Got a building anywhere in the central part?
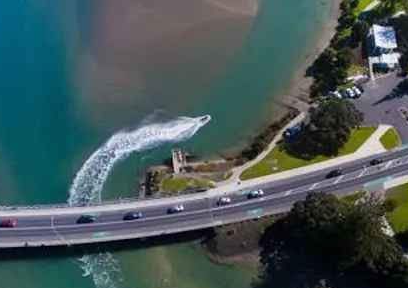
No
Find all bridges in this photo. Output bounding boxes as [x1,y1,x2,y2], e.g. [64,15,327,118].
[0,185,239,248]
